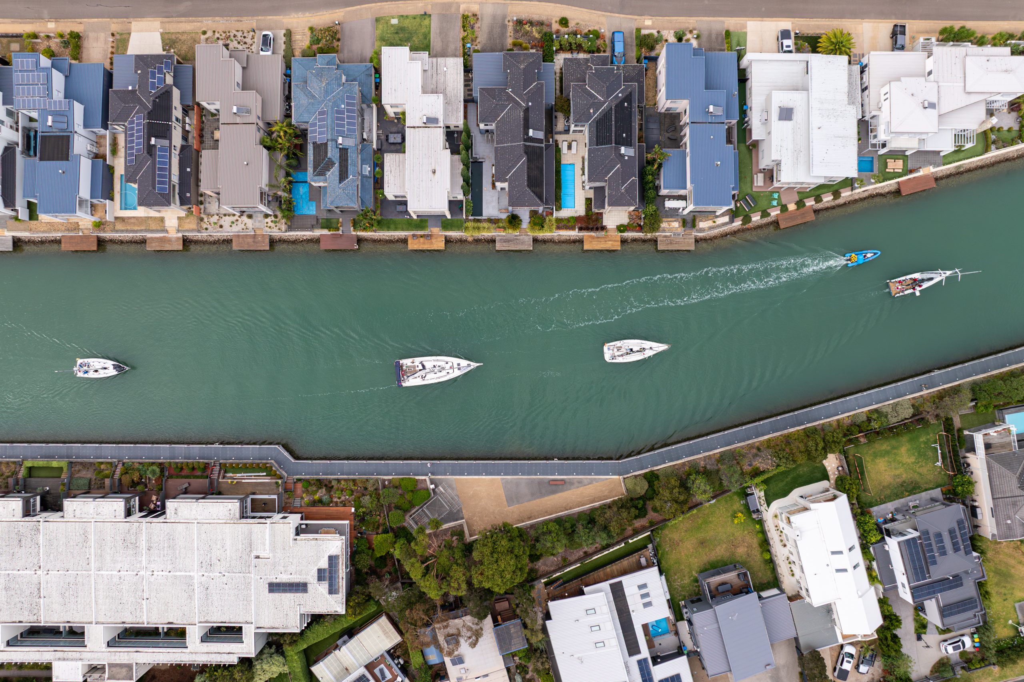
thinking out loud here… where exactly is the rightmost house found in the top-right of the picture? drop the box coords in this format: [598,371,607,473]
[857,36,1024,156]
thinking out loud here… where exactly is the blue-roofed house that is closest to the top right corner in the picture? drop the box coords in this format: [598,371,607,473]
[659,42,739,215]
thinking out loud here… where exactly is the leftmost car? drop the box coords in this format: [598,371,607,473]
[258,31,275,54]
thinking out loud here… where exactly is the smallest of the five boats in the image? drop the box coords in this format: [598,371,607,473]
[844,249,881,267]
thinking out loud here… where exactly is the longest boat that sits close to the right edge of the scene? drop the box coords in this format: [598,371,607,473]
[886,267,981,298]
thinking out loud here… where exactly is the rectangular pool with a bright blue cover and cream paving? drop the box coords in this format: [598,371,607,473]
[561,161,577,210]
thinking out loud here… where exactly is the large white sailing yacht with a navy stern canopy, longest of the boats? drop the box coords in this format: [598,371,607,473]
[395,355,483,387]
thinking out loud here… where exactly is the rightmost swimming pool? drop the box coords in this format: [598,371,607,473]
[1002,409,1024,437]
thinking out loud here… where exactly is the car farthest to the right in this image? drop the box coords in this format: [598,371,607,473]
[938,633,972,655]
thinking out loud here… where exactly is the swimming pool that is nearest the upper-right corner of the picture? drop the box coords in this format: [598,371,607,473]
[858,154,877,174]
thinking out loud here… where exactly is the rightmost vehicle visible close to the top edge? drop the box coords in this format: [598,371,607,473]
[889,20,909,51]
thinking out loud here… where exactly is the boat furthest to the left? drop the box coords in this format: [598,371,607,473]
[55,359,133,380]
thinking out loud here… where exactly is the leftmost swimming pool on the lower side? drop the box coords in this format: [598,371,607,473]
[647,617,671,640]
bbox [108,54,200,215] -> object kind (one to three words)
house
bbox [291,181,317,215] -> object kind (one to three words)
swimming pool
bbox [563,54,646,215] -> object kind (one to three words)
house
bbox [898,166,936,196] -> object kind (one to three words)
pier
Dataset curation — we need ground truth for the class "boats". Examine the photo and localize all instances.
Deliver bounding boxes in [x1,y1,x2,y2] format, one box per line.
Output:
[844,249,881,267]
[55,359,133,380]
[886,267,981,298]
[602,337,671,362]
[395,355,483,387]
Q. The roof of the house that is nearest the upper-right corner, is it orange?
No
